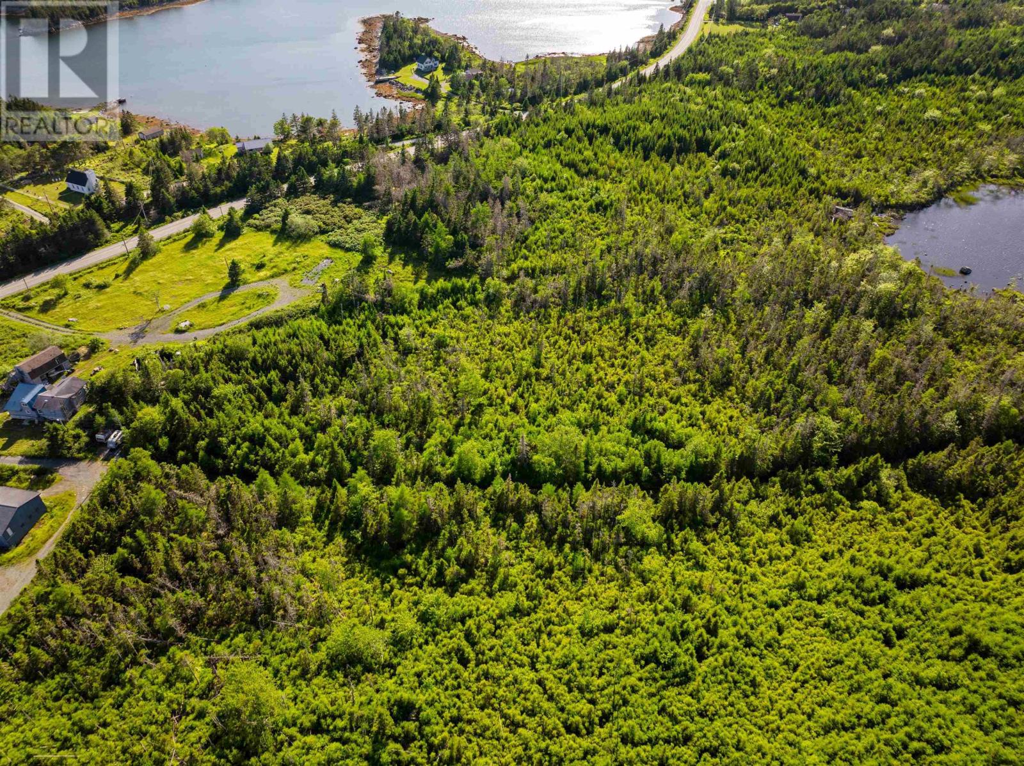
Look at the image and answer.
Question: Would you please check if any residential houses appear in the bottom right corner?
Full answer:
No, looking in the bottom right corner, there is no residential house.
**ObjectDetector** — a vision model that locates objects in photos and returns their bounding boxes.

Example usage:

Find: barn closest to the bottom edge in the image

[0,484,46,546]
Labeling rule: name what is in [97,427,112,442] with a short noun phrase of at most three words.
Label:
vehicle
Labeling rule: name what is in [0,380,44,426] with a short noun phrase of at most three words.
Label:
house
